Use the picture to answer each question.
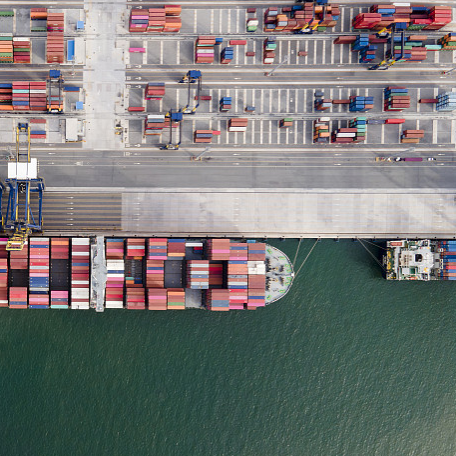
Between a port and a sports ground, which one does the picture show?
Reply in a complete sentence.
The picture captures a port.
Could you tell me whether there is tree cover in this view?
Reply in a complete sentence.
No, no tree cover is visible.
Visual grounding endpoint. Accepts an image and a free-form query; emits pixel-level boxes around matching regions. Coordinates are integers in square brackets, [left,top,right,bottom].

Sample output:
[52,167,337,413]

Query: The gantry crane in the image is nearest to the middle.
[160,108,183,150]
